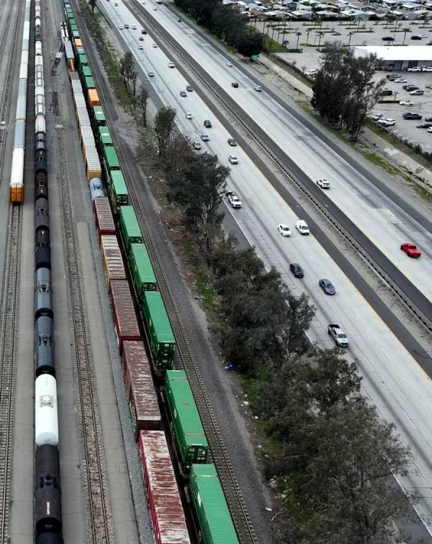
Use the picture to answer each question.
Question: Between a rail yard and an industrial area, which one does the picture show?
rail yard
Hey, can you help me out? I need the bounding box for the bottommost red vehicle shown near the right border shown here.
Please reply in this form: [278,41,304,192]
[400,242,423,258]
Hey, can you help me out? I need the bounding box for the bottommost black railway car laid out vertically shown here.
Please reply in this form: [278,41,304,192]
[35,448,62,544]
